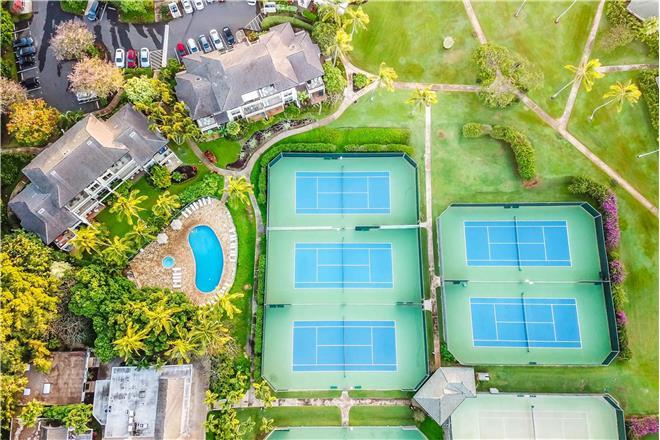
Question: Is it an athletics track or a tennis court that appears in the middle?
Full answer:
There is a tennis court in the middle.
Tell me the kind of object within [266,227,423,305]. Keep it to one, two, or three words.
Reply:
tennis court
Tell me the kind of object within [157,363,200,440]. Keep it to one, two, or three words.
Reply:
building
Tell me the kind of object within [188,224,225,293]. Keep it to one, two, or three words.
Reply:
swimming pool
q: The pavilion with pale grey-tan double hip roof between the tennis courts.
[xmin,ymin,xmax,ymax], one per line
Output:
[414,367,476,426]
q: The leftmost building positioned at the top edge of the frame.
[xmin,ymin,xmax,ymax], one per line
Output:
[173,21,326,137]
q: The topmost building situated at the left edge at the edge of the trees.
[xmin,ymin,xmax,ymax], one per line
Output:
[9,102,177,252]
